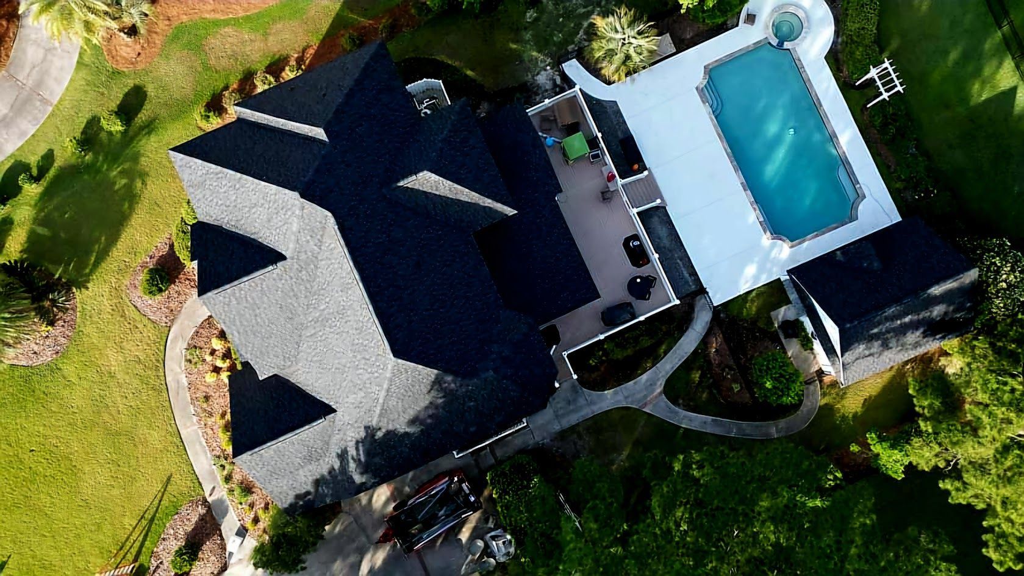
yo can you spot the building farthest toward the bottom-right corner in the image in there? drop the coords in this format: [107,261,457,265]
[781,209,975,388]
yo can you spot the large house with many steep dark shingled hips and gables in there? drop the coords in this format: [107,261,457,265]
[167,41,602,513]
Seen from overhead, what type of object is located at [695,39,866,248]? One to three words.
swimming pool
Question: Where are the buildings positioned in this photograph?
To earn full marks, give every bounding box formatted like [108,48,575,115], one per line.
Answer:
[781,209,975,388]
[167,41,602,513]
